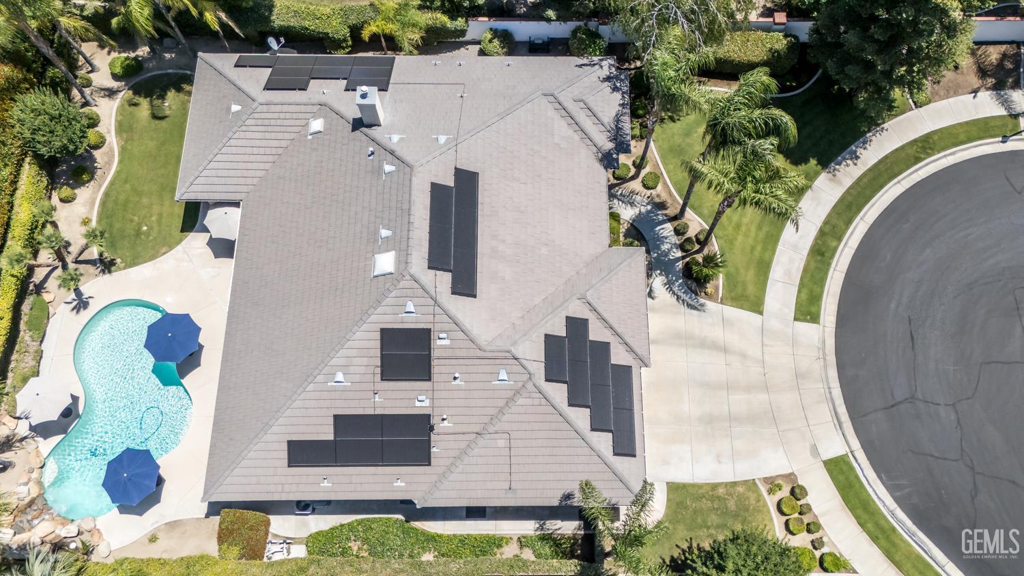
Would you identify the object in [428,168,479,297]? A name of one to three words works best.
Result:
solar array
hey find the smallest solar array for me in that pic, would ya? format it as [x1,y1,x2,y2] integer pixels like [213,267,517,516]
[380,328,431,381]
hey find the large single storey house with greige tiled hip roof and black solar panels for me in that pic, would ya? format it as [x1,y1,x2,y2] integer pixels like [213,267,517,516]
[173,54,652,508]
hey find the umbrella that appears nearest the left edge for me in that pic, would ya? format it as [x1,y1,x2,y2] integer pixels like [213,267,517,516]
[13,369,71,424]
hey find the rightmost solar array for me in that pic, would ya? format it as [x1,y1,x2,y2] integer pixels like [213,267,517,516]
[544,316,636,457]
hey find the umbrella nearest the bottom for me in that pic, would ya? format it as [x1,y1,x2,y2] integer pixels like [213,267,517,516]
[101,447,157,506]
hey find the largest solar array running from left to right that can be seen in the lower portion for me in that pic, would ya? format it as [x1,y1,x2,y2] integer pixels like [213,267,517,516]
[287,414,431,467]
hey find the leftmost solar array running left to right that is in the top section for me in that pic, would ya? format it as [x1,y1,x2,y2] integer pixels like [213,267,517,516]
[234,55,395,92]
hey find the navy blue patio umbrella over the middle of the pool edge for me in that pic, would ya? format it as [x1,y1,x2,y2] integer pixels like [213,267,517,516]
[145,312,201,363]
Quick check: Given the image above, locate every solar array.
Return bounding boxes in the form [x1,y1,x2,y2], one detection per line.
[428,168,479,297]
[544,316,636,457]
[234,55,395,92]
[287,414,431,467]
[380,328,431,381]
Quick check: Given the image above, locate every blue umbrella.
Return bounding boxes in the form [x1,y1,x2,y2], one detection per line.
[145,312,201,363]
[101,447,157,506]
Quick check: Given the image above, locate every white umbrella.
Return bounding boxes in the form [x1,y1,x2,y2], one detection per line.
[204,202,238,239]
[13,369,71,424]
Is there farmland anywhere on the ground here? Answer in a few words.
No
